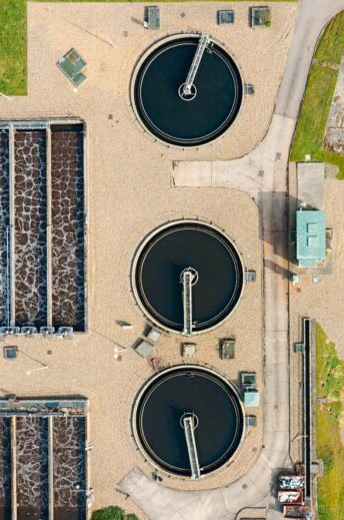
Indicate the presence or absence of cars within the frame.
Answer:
No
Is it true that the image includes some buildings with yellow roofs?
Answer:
No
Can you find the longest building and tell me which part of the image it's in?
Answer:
right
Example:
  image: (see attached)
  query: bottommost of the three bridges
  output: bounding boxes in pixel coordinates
[183,417,199,481]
